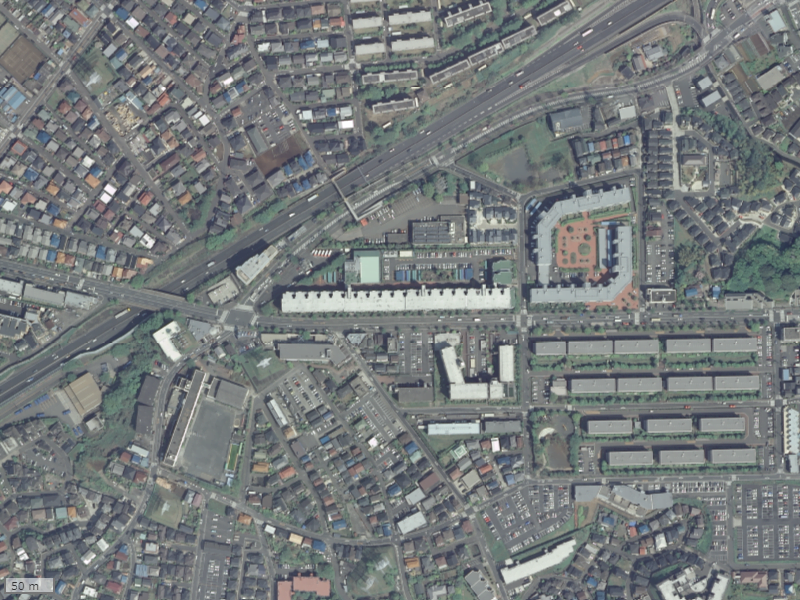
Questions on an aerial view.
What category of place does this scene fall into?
residential area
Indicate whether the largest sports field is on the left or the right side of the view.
left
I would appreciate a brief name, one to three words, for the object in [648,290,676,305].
building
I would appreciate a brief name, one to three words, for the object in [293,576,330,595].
house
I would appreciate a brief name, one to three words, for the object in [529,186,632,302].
building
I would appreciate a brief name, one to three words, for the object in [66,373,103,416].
barn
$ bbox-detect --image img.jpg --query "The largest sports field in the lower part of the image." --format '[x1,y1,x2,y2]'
[182,398,244,484]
